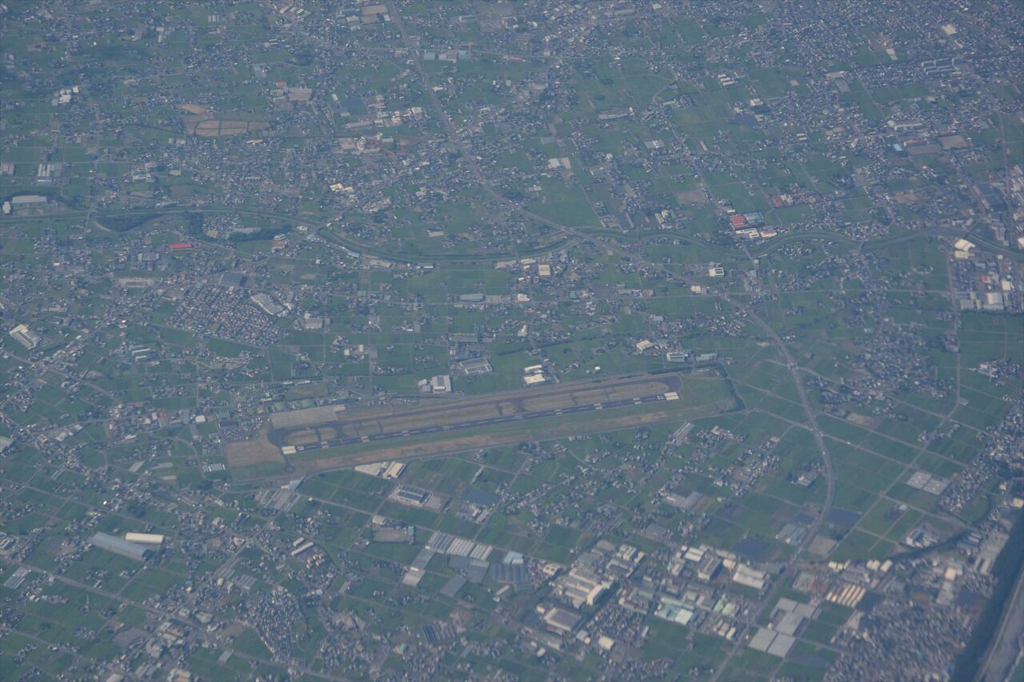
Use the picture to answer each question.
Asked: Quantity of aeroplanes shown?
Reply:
0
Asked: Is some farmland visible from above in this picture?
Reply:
Yes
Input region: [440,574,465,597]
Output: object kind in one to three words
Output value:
greenhouse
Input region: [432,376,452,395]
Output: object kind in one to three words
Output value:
building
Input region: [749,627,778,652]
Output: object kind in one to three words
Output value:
greenhouse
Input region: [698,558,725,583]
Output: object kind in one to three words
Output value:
building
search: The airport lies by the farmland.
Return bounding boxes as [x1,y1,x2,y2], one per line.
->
[225,366,744,480]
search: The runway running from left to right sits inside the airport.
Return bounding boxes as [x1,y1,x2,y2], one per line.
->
[279,390,682,454]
